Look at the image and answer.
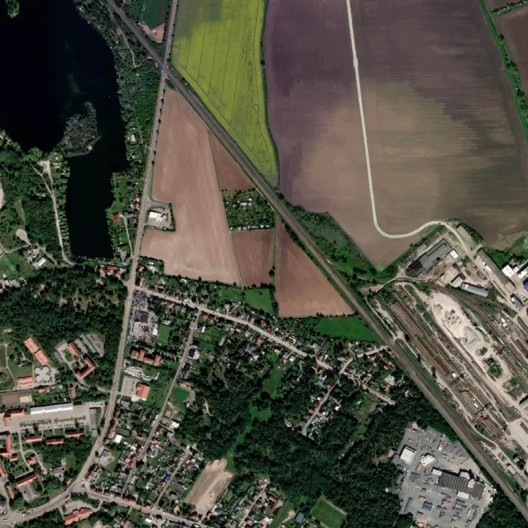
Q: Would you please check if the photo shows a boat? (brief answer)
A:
No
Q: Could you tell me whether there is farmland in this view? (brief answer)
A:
Yes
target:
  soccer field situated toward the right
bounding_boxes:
[311,497,347,528]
